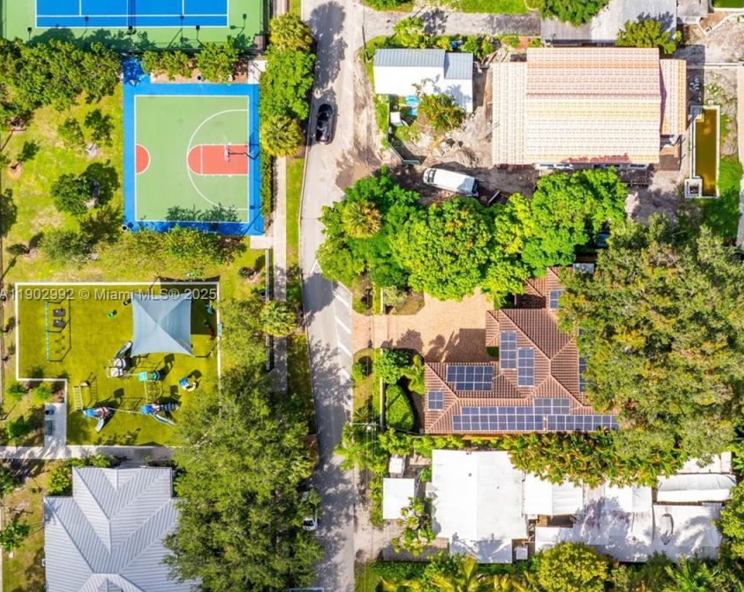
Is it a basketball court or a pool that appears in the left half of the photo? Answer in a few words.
basketball court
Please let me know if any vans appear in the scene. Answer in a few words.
Yes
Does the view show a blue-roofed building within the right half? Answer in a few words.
No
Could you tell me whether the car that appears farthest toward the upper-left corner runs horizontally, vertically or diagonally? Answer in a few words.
vertically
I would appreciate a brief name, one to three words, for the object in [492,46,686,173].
house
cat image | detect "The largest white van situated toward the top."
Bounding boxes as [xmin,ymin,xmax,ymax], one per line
[424,164,476,194]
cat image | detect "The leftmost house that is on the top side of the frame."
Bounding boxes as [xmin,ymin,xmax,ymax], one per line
[374,49,473,113]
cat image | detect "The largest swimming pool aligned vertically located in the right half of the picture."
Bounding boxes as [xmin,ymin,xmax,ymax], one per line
[690,104,720,196]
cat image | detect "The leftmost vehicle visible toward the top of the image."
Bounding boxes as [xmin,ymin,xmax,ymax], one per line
[313,100,334,141]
